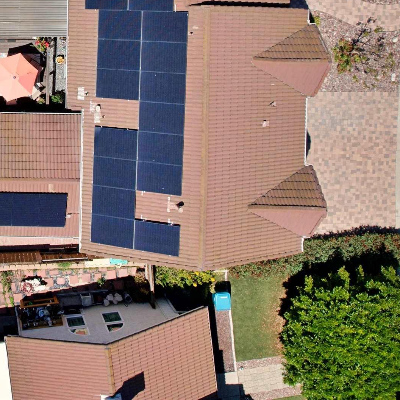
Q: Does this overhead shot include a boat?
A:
No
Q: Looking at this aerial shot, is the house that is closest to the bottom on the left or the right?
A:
left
